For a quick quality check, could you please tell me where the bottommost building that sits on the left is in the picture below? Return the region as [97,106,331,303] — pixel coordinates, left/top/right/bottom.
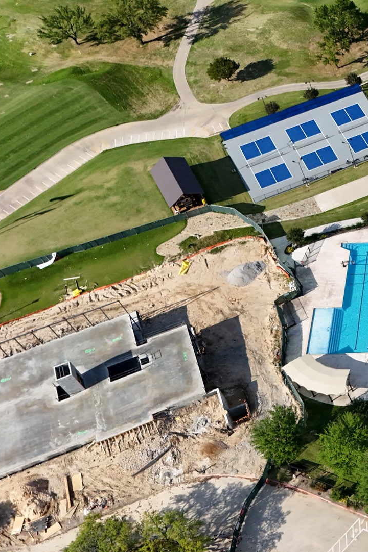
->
[0,301,232,484]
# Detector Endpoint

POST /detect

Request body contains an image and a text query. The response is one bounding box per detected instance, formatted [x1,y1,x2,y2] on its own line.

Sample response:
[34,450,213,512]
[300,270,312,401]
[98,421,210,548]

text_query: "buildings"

[151,156,206,212]
[0,301,232,484]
